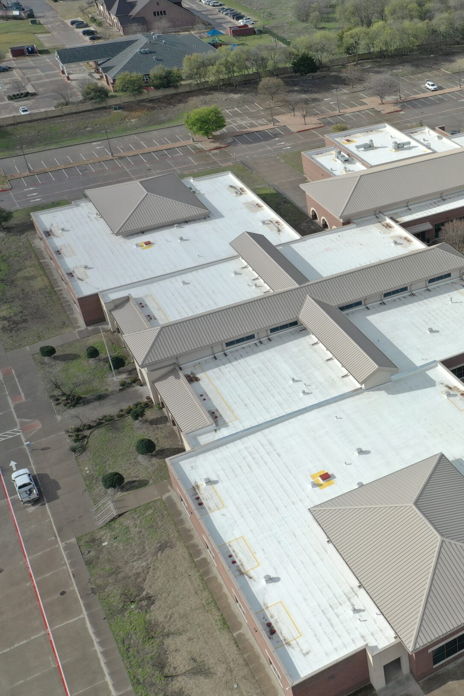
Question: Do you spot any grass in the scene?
Yes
